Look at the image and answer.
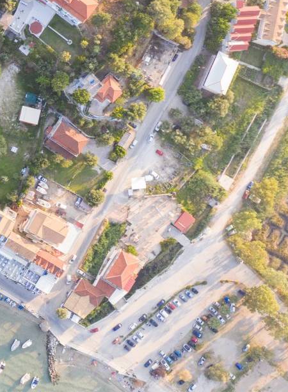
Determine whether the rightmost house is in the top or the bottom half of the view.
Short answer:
top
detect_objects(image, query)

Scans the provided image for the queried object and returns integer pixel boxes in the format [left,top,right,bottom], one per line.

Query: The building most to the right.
[250,0,288,47]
